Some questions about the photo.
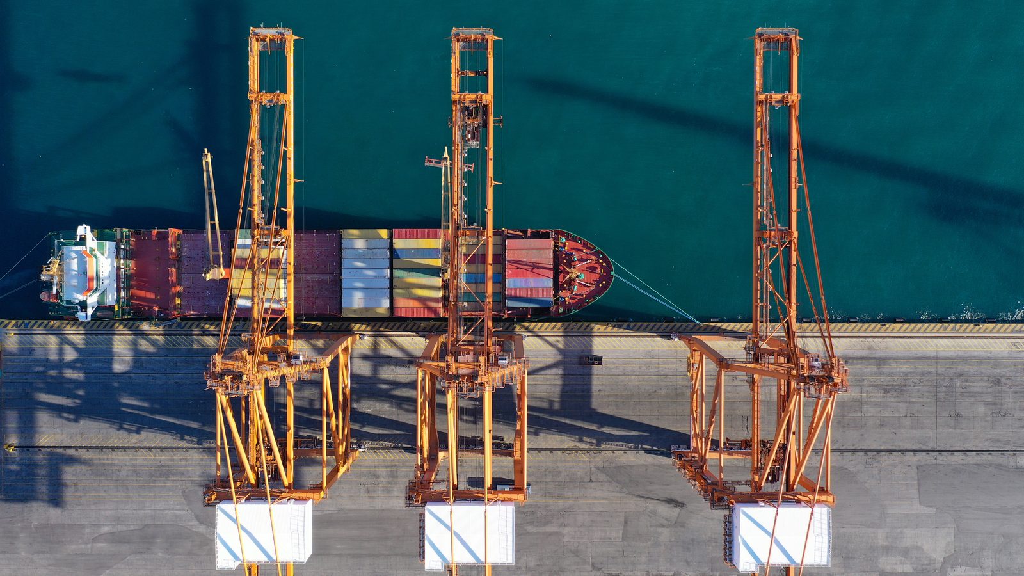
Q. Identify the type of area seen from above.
port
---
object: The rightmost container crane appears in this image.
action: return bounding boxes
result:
[672,25,852,576]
